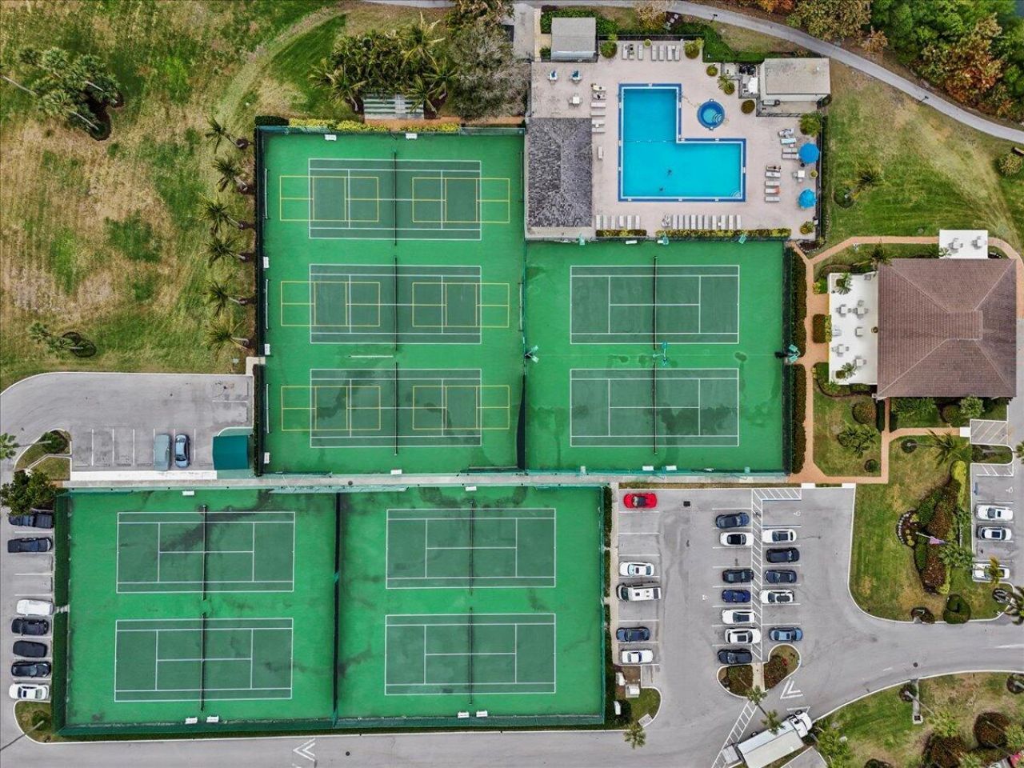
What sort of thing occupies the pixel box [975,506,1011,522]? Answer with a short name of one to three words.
car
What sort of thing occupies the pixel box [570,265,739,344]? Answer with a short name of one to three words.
tennis court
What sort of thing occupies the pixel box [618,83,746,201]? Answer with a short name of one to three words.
swimming pool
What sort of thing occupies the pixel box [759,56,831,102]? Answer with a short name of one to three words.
building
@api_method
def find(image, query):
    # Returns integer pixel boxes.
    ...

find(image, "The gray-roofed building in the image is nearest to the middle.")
[527,117,592,236]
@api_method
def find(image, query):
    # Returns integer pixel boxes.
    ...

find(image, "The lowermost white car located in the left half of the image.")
[12,682,48,700]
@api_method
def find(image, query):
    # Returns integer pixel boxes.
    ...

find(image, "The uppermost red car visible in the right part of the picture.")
[623,493,657,509]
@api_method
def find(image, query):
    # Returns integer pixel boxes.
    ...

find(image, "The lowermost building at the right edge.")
[877,258,1017,398]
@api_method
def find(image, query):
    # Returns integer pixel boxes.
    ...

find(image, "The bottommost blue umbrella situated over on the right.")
[797,190,816,209]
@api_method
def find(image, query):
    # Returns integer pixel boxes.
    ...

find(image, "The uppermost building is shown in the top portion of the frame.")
[552,18,596,61]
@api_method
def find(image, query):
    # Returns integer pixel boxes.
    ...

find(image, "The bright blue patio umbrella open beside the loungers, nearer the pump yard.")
[798,143,819,164]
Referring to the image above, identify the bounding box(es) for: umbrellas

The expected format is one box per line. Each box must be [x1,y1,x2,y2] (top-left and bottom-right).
[797,190,816,209]
[798,143,819,164]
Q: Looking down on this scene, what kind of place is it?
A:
sports ground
